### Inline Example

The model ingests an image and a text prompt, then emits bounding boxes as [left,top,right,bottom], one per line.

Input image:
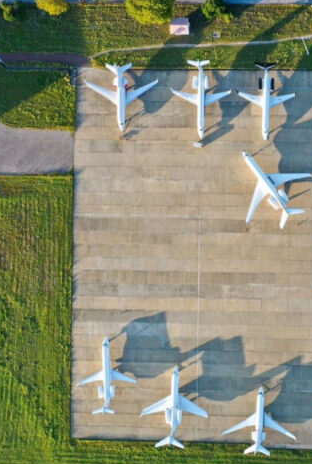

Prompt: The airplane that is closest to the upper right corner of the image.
[236,63,295,139]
